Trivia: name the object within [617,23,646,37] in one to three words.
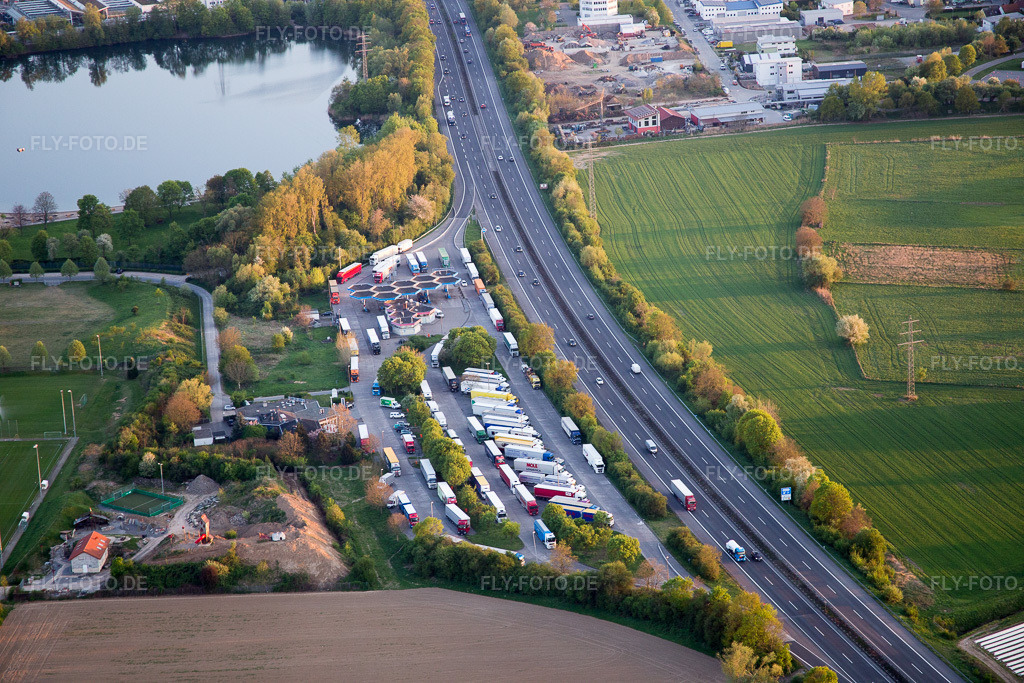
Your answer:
shed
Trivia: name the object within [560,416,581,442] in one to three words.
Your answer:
truck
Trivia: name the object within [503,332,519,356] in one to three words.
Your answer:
vehicle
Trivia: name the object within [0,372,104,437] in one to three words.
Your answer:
soccer field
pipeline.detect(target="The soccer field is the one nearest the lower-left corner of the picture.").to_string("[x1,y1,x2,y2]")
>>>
[0,441,66,548]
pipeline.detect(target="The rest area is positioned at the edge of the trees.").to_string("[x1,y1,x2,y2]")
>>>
[327,176,860,683]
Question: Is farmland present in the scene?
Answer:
Yes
